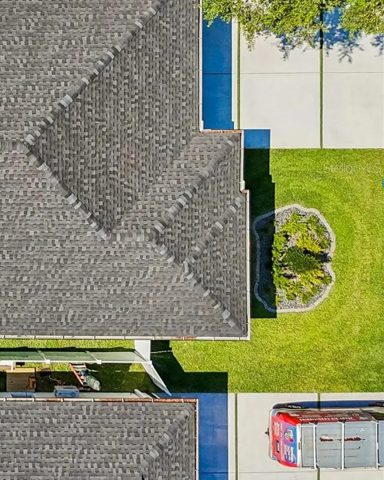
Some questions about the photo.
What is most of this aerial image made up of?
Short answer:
buildings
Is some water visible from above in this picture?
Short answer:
No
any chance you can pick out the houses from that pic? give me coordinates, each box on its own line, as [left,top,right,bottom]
[0,0,250,340]
[0,390,198,480]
